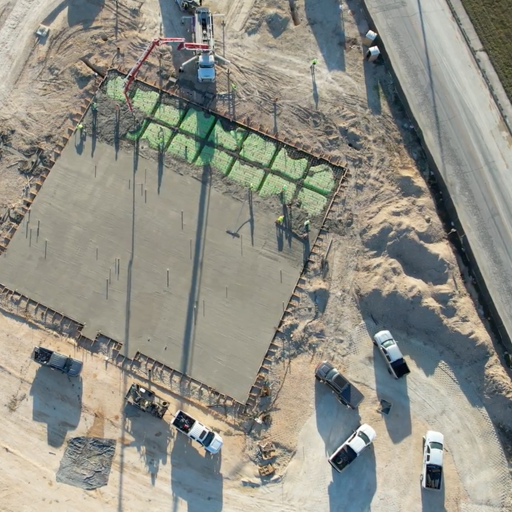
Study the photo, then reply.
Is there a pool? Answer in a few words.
No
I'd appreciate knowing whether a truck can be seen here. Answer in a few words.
Yes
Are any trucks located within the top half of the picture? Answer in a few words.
Yes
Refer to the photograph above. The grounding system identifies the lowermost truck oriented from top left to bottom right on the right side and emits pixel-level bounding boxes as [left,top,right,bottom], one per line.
[313,362,364,410]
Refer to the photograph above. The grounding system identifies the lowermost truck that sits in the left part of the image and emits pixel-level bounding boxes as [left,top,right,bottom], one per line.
[170,409,223,453]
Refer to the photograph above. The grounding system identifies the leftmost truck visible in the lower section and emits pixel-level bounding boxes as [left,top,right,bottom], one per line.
[31,345,84,378]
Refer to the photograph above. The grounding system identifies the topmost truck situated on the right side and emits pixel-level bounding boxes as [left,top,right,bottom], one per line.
[373,331,412,379]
